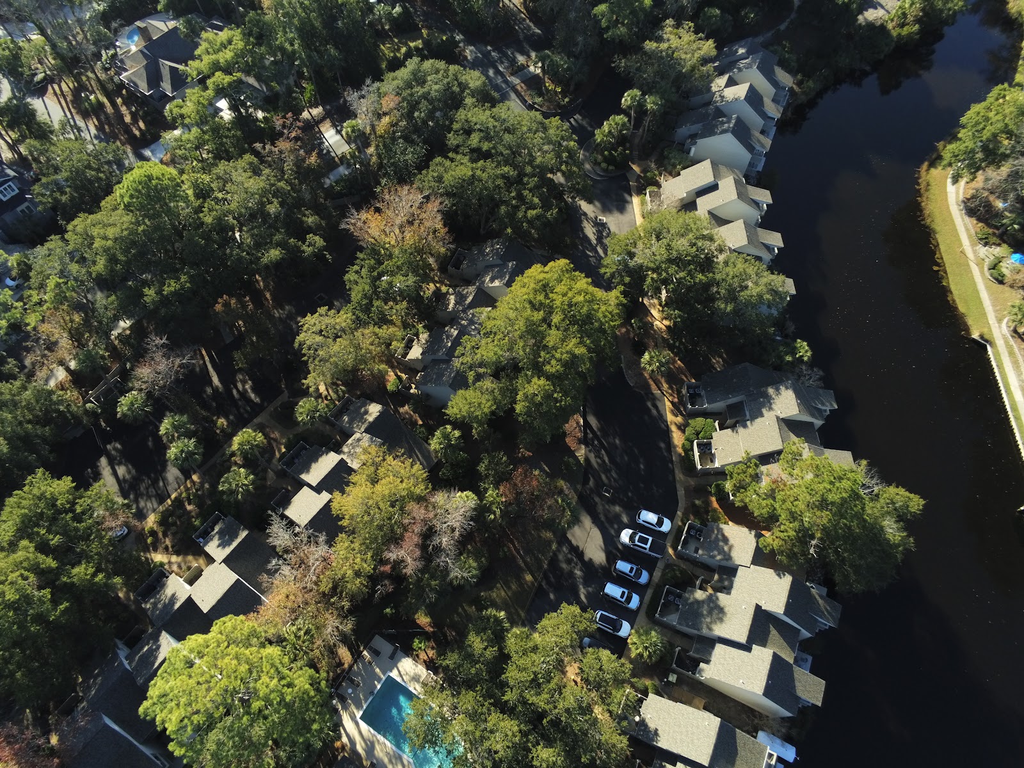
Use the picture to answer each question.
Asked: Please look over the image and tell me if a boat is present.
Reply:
Yes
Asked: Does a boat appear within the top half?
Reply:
No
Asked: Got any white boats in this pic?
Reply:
No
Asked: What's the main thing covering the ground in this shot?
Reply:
trees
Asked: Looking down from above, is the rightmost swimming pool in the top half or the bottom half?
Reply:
bottom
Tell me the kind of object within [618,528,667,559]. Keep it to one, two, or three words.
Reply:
truck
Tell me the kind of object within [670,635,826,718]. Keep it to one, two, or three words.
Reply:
house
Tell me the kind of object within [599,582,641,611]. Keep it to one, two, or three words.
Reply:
car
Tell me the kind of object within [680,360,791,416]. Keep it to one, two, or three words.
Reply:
house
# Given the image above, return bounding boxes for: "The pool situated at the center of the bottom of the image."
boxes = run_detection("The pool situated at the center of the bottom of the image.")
[355,669,463,768]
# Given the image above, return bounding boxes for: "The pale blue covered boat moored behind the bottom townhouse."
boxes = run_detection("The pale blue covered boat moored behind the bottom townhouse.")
[755,727,803,761]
